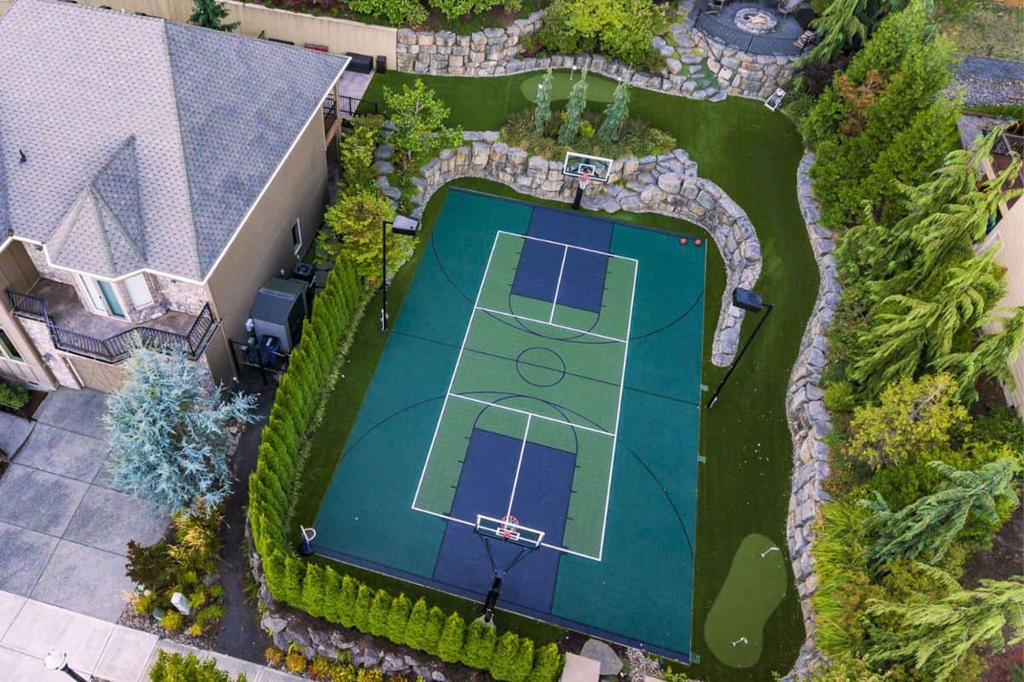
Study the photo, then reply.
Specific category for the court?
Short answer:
basketball court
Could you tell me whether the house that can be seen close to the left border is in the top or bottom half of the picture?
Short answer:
top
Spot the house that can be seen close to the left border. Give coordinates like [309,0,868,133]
[0,0,351,408]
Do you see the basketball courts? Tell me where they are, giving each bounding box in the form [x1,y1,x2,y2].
[313,188,709,665]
